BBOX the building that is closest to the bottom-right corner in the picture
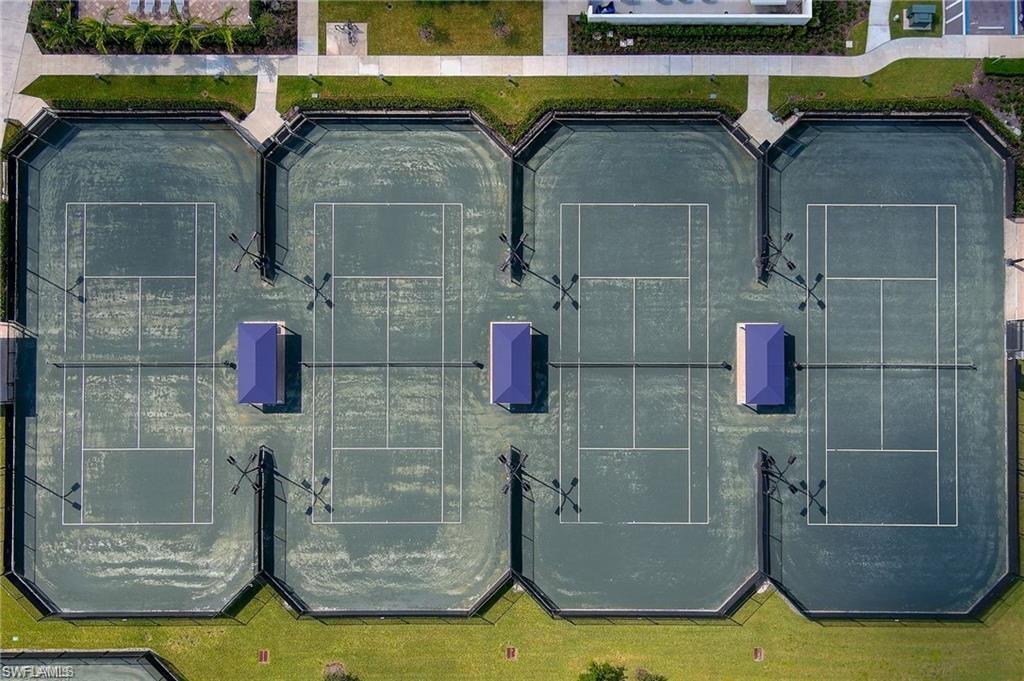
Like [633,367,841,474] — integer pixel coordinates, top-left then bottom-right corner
[737,322,784,404]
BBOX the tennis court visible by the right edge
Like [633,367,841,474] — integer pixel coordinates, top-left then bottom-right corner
[757,118,1008,611]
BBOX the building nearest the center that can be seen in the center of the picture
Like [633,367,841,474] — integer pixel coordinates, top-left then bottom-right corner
[490,322,532,404]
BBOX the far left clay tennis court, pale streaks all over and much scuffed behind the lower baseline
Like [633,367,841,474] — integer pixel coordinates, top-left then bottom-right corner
[13,118,263,612]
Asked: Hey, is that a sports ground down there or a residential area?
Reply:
sports ground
